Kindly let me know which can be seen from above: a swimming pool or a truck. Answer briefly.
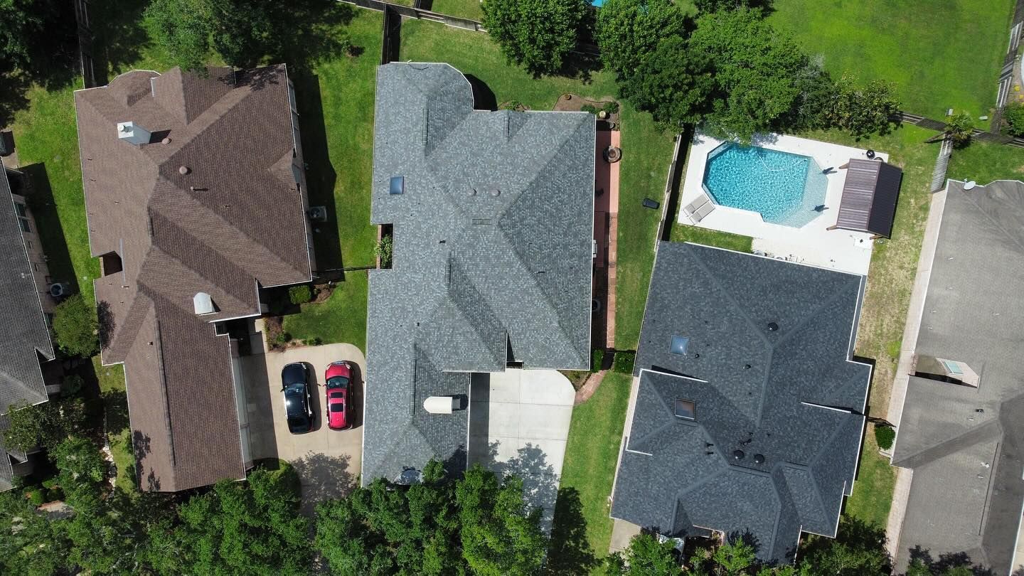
swimming pool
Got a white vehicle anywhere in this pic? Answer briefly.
No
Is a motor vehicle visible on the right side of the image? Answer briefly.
No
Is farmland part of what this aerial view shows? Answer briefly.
No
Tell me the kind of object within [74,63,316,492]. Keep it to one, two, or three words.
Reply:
house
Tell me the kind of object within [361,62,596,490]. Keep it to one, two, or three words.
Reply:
house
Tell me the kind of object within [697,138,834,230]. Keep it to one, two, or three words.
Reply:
swimming pool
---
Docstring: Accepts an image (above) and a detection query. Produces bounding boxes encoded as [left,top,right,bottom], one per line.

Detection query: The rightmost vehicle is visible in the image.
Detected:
[323,362,356,429]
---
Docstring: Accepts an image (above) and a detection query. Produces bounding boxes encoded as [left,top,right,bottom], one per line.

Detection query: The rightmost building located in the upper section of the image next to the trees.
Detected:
[825,158,909,239]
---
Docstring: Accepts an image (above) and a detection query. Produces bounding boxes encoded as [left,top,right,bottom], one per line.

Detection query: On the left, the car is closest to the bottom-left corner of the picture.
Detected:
[279,363,317,434]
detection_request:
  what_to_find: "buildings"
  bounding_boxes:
[74,63,316,492]
[0,160,71,495]
[609,240,872,564]
[361,62,596,490]
[877,179,1024,576]
[825,158,909,239]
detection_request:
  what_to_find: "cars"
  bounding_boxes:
[323,362,356,429]
[279,363,317,434]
